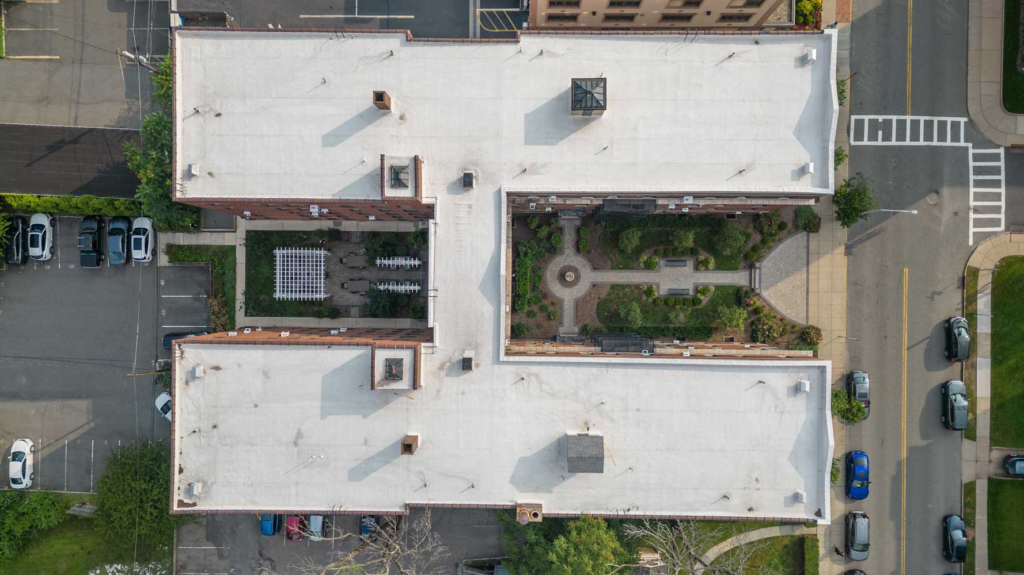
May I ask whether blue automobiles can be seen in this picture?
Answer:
Yes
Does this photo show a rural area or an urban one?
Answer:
urban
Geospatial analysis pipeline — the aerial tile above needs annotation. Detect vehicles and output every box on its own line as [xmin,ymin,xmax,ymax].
[156,393,172,431]
[846,371,873,418]
[846,451,873,501]
[158,330,206,351]
[310,515,331,540]
[287,515,308,540]
[127,217,154,263]
[0,214,28,264]
[945,316,973,363]
[25,213,54,260]
[1005,456,1024,476]
[4,440,34,492]
[262,515,285,536]
[943,381,972,431]
[73,214,104,269]
[103,216,131,265]
[846,513,873,563]
[943,515,972,565]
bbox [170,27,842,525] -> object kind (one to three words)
building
